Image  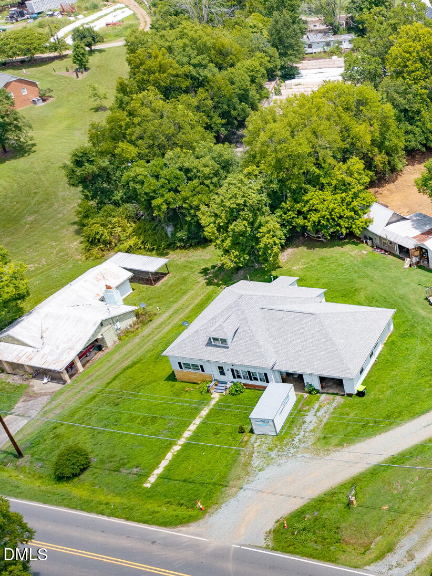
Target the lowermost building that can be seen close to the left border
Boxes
[0,260,141,387]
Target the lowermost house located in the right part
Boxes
[162,274,397,399]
